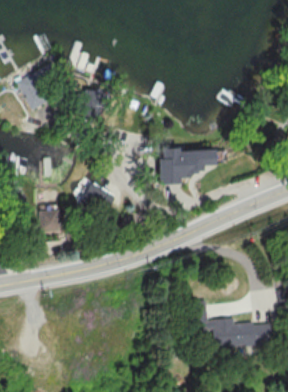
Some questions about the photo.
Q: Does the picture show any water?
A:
Yes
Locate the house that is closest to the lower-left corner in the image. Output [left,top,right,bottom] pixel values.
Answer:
[40,210,60,234]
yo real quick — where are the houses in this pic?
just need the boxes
[82,88,104,116]
[17,76,46,110]
[40,210,60,234]
[72,178,116,207]
[160,146,218,184]
[192,298,270,346]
